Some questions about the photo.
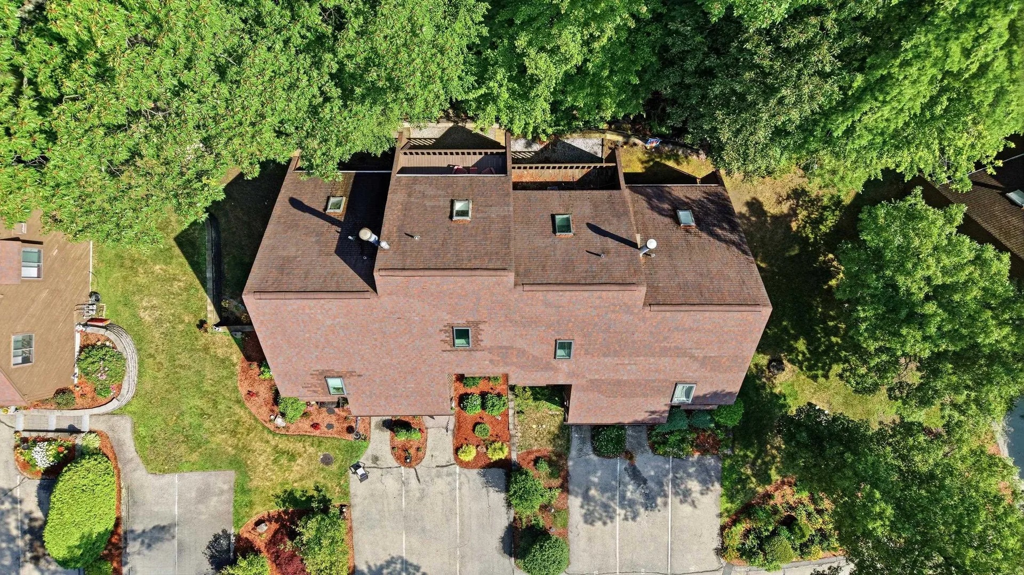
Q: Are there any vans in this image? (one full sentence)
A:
No, there appears to be no van in this shot.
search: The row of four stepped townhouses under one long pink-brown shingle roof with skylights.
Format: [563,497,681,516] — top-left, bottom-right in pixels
[242,131,770,426]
